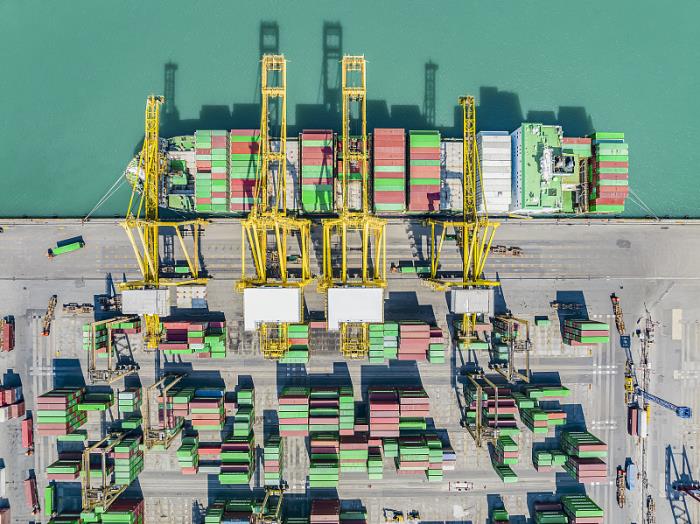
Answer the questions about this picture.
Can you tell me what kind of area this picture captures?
port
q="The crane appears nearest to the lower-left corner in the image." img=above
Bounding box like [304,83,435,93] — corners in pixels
[82,428,134,512]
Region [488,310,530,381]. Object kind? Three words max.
container crane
